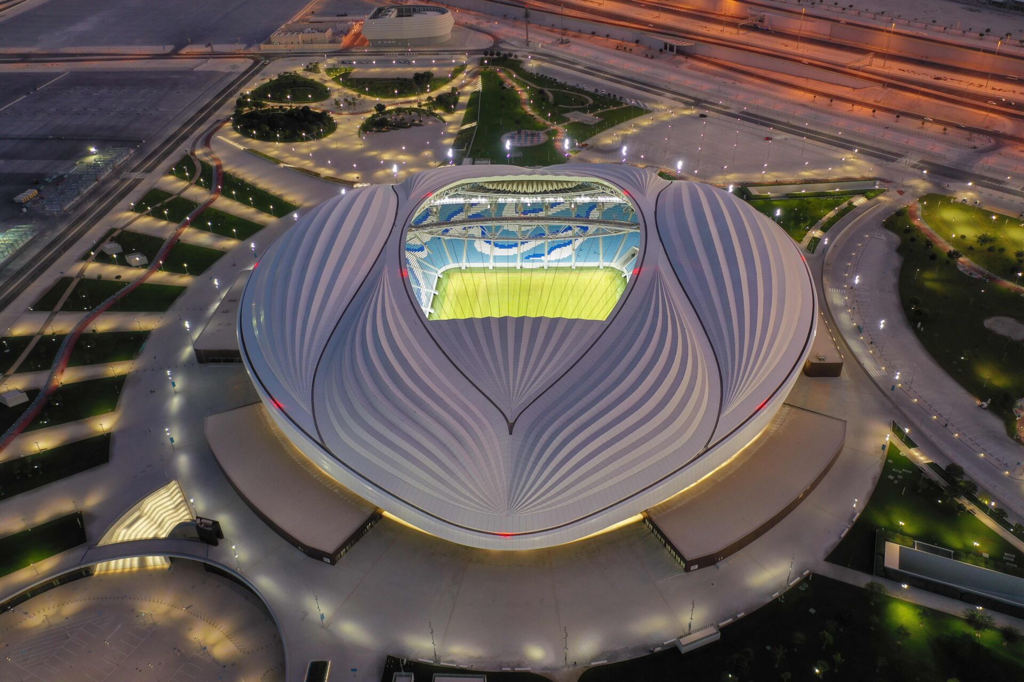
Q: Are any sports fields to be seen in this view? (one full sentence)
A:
Yes, the picture does show a sports field.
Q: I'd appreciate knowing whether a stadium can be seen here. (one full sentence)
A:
Yes, the image includes a stadium.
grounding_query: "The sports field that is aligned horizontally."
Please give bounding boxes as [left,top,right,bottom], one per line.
[441,275,614,328]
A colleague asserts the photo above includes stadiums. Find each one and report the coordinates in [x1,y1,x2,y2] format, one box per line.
[237,160,819,550]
